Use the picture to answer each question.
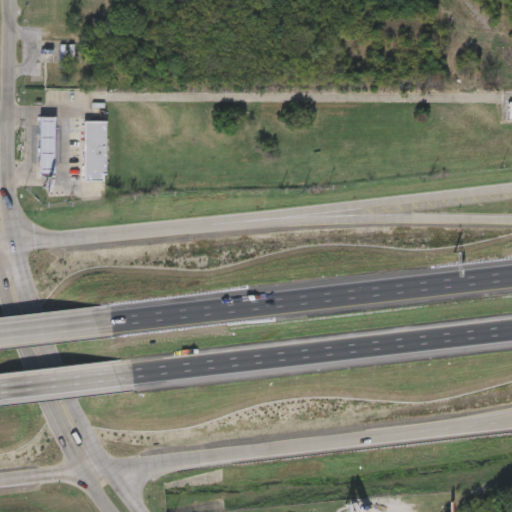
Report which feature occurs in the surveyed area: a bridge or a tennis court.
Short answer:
bridge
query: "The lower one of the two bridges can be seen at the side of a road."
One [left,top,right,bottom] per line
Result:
[0,362,122,406]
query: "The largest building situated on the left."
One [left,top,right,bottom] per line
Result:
[84,120,108,181]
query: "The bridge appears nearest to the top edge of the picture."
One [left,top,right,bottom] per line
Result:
[0,306,104,350]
